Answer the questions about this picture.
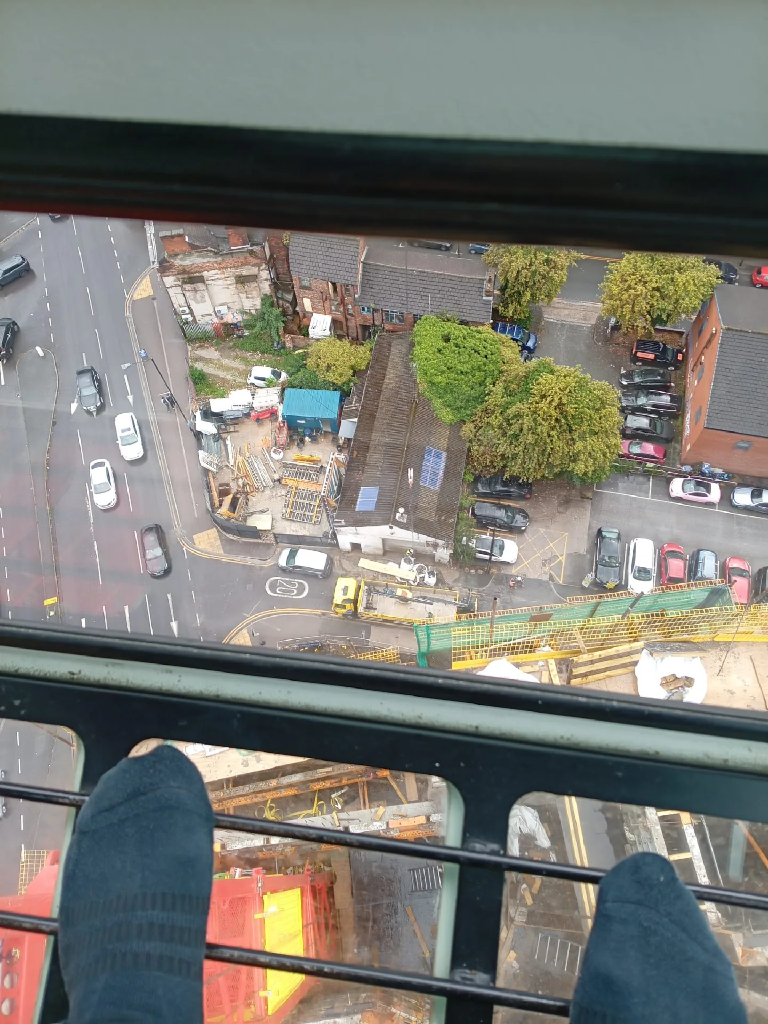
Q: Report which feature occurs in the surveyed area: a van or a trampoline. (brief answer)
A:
van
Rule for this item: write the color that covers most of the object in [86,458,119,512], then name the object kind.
white car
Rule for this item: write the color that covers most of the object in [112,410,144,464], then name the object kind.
white car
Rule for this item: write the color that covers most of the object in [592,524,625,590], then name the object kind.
gray car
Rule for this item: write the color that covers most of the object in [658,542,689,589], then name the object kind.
red car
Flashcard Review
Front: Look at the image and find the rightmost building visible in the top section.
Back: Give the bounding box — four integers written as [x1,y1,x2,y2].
[685,288,768,471]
